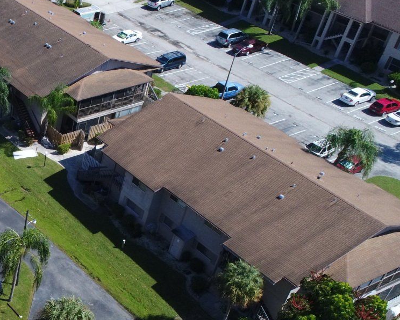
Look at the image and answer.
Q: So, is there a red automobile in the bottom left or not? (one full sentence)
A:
No, the scene shows no red automobile in the bottom left.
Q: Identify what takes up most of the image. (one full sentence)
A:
Most of the picture is covered by buildings.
